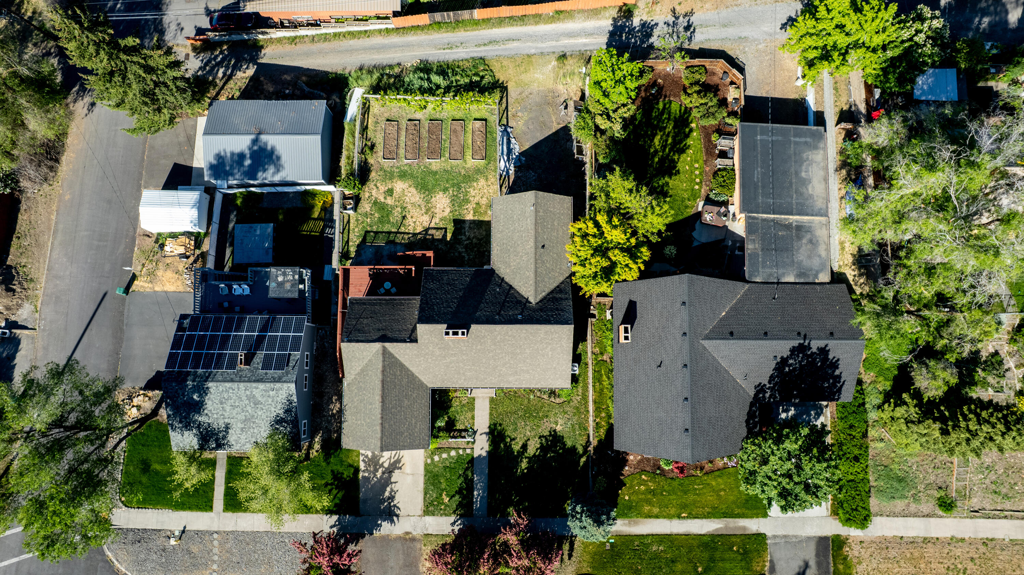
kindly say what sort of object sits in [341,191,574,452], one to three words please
house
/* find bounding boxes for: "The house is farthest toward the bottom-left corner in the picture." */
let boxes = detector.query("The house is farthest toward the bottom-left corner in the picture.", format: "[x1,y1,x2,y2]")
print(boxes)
[162,312,316,452]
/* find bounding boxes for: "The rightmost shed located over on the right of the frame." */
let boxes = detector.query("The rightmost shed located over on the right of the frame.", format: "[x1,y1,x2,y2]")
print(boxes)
[901,68,958,108]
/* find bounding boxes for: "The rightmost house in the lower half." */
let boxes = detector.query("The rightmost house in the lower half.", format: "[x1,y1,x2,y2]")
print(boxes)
[614,274,865,464]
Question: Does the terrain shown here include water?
No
